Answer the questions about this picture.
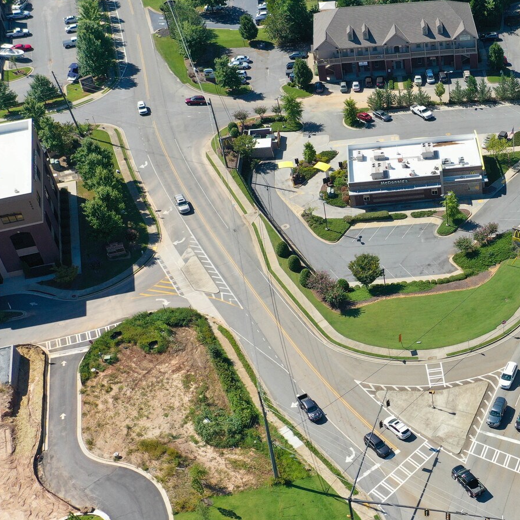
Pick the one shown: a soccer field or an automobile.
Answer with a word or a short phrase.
automobile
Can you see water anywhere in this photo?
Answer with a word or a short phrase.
No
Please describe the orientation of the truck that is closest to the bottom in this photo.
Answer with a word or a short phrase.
on a diagonal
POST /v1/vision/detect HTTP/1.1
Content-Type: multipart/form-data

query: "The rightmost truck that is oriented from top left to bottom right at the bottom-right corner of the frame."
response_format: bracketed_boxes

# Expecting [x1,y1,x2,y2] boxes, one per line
[451,465,485,500]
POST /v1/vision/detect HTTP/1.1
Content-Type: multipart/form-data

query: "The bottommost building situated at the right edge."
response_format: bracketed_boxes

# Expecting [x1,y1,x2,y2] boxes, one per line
[345,128,500,206]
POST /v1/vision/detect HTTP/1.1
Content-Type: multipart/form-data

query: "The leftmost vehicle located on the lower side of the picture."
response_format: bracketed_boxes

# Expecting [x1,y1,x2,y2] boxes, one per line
[295,393,324,423]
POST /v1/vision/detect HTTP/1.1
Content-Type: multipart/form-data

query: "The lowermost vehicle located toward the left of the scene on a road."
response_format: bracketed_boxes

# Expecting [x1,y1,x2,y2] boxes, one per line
[175,195,189,212]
